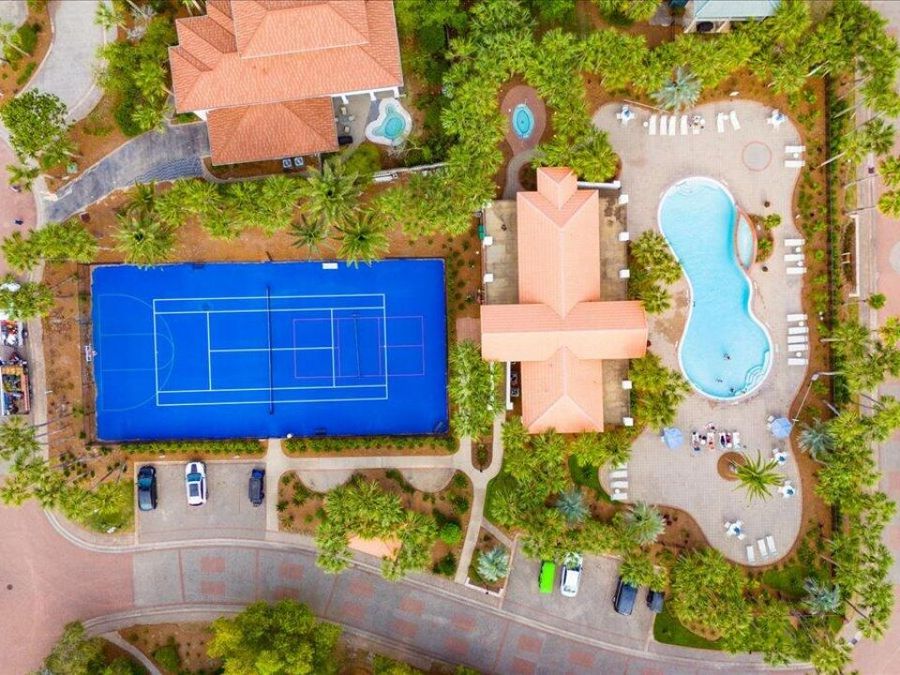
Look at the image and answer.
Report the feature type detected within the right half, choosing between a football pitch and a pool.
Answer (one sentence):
The one visible within the right half is a pool.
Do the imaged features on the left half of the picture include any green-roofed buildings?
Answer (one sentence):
No, no green-roofed building can be made out on the left half of the picture.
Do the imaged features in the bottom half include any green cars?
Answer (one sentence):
Yes, the scene does show a green car in the bottom half.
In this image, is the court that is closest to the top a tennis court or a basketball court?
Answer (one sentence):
The court that is closest to the top can be classified as a tennis court.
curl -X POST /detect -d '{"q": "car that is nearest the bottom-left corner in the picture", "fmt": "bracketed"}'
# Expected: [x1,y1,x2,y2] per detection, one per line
[134,463,160,512]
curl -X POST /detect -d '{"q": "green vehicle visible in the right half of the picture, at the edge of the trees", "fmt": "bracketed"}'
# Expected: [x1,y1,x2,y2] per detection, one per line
[537,552,560,594]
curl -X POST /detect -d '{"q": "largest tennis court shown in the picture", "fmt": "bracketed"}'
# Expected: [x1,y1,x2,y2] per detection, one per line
[91,258,448,442]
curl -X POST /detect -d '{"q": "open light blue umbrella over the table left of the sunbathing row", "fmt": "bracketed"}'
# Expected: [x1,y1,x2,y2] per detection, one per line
[663,426,687,451]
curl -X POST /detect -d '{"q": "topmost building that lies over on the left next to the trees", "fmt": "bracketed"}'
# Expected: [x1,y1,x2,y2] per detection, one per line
[169,0,404,165]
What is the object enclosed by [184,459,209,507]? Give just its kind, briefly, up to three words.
car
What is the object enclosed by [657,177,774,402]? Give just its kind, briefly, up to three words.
swimming pool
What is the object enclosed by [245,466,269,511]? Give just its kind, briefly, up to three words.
car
